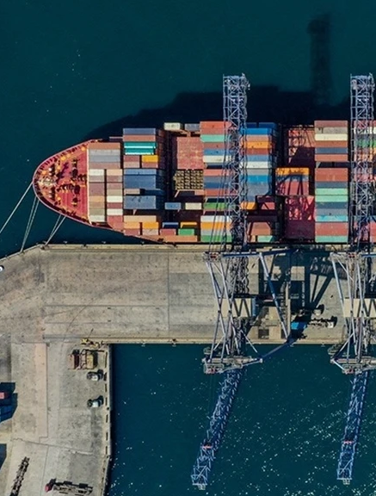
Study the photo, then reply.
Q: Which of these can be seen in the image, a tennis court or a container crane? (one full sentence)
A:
I can see a container crane in this picture.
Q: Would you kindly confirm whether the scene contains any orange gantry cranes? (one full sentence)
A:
No, I find no orange gantry crane anywhere in the image.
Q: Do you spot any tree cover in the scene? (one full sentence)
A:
No, the scene doesn't show any tree cover.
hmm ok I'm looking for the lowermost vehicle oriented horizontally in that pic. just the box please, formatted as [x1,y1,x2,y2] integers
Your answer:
[42,484,87,496]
